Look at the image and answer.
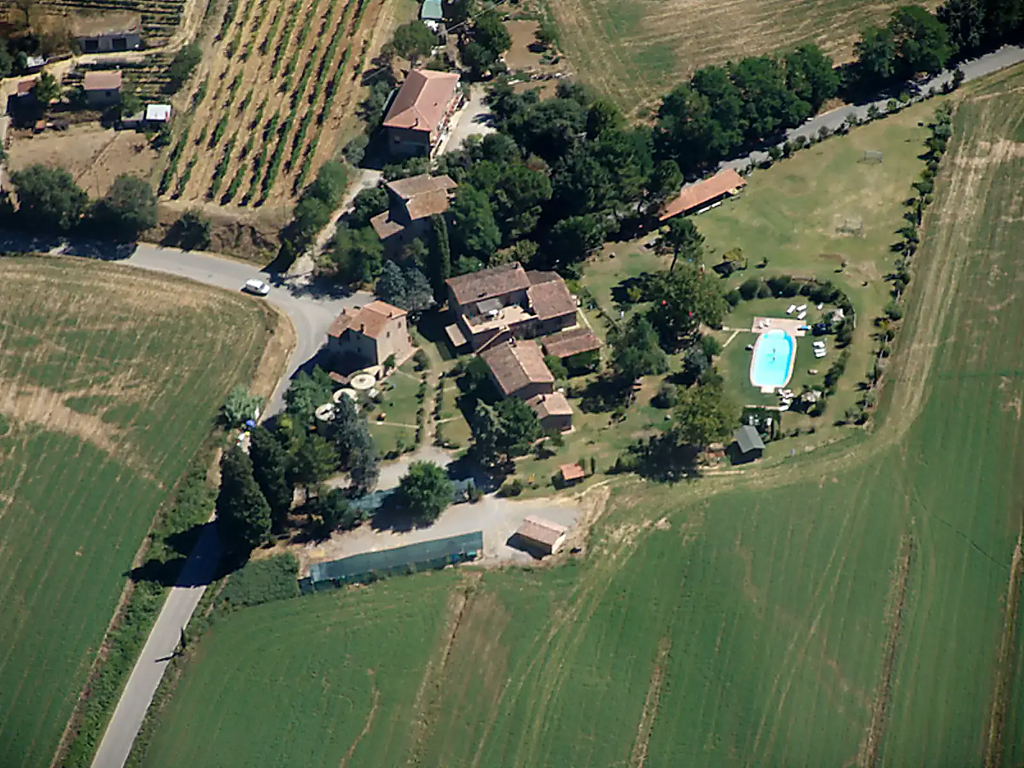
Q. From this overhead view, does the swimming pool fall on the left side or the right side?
right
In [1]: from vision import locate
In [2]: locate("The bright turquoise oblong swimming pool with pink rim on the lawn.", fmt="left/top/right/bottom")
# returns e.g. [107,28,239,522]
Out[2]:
[751,317,806,393]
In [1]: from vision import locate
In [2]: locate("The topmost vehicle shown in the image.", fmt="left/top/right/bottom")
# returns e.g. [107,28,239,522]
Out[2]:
[242,277,270,294]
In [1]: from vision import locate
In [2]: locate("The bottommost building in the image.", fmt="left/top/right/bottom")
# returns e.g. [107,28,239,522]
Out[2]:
[517,515,566,554]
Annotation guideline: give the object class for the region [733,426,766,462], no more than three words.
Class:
shed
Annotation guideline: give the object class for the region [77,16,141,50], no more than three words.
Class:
building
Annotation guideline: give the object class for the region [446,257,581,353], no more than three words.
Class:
house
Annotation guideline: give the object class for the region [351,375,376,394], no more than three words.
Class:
umbrella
